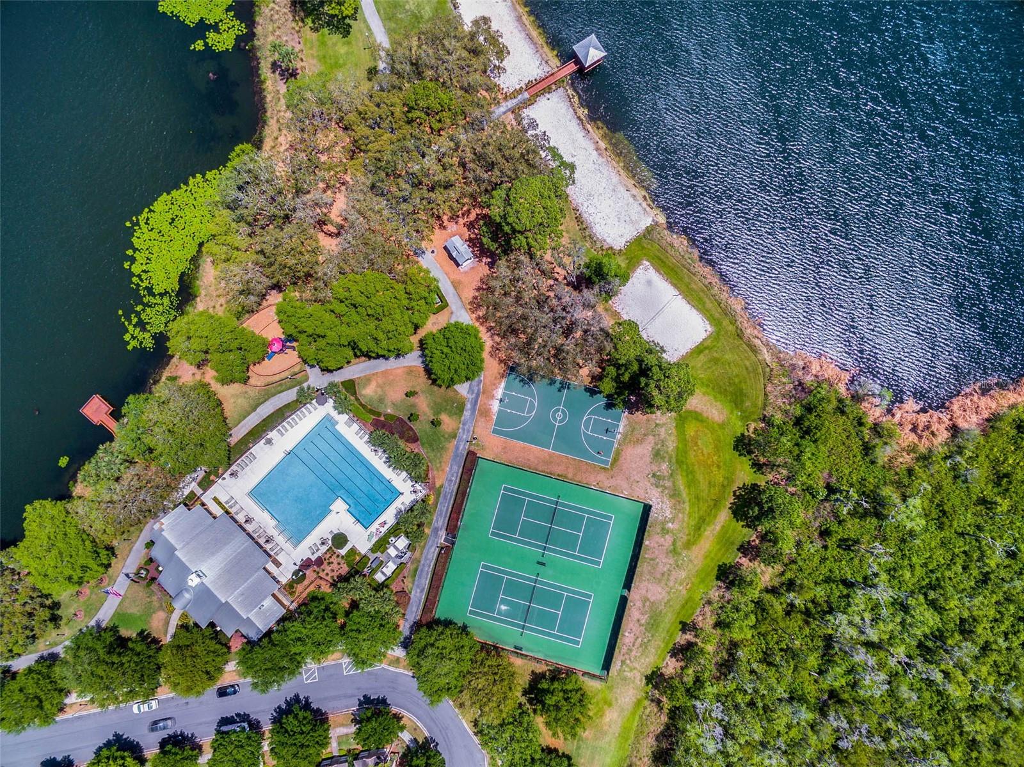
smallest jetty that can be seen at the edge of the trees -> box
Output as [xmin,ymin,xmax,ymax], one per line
[78,394,128,437]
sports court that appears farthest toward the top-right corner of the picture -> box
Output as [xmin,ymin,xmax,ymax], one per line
[614,265,709,359]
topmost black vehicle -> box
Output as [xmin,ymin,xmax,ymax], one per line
[218,683,240,698]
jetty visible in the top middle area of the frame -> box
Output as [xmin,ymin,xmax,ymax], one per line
[526,35,606,96]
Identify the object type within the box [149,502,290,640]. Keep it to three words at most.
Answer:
building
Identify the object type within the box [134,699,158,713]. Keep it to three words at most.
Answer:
car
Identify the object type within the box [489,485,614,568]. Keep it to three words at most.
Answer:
tennis court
